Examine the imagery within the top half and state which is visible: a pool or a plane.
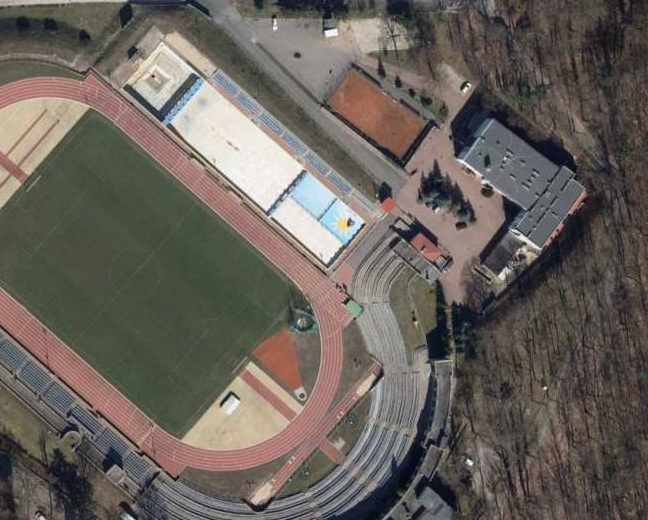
pool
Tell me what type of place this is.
sports ground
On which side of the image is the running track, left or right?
left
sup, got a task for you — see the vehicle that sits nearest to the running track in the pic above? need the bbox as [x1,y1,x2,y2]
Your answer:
[120,507,137,520]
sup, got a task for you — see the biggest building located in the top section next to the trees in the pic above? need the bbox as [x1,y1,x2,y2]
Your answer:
[459,118,587,256]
